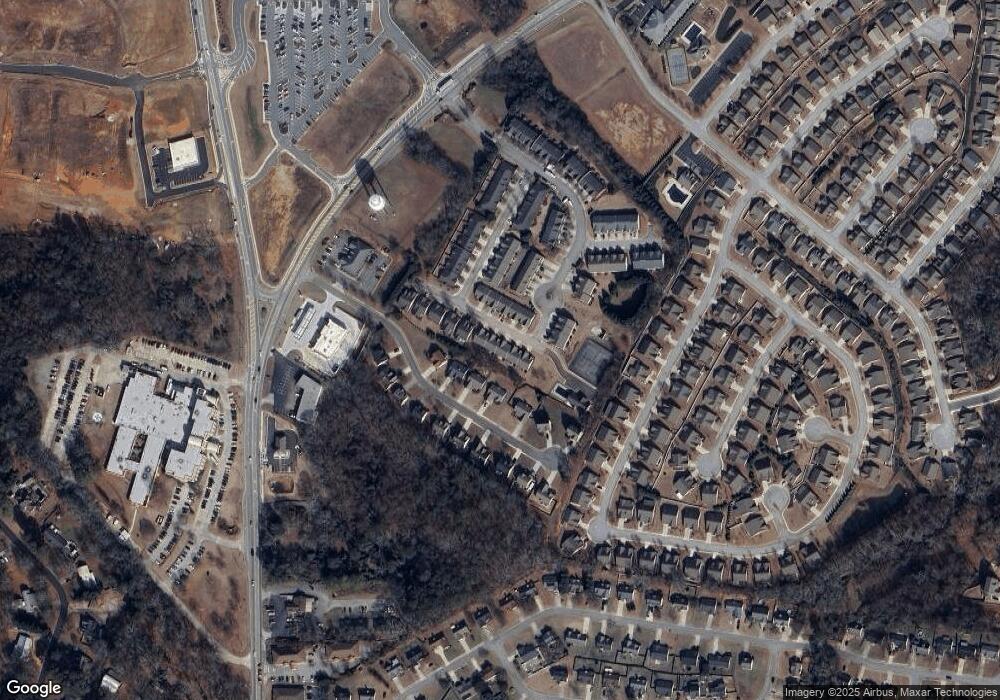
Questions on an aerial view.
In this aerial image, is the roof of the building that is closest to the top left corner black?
No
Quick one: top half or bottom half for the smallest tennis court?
top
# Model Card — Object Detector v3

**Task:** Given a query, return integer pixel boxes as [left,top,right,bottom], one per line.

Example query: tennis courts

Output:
[568,339,613,384]
[665,48,689,85]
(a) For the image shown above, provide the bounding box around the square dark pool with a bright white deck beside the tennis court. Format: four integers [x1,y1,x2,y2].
[681,21,705,45]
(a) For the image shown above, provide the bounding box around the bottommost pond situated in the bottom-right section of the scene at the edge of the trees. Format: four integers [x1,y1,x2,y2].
[838,485,909,546]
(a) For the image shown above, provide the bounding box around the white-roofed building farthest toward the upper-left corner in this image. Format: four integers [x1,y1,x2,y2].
[170,138,200,173]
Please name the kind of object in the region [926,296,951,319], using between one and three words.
house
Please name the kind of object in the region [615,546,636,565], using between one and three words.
house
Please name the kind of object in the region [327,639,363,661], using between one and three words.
building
